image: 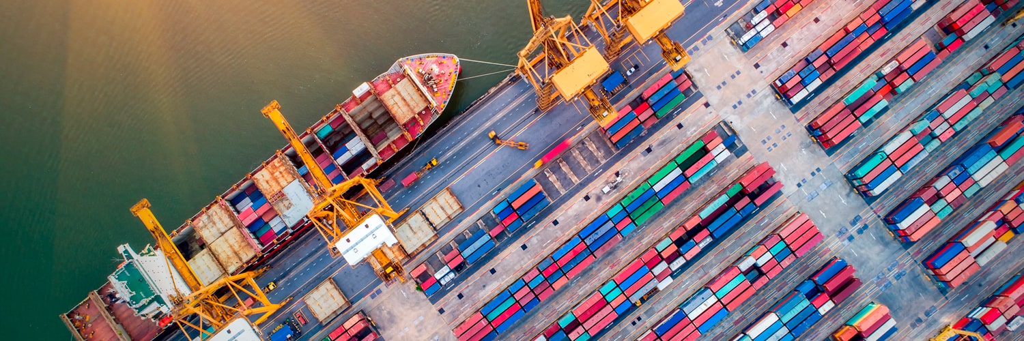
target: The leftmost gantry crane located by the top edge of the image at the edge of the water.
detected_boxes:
[513,0,622,126]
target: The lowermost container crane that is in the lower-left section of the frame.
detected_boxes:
[124,208,299,341]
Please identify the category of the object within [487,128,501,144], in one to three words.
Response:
vehicle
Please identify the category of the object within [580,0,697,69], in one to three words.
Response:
container crane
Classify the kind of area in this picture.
port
